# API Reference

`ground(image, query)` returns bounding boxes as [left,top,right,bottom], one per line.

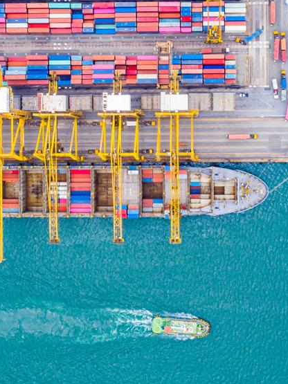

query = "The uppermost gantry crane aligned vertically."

[206,0,228,45]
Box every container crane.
[153,42,176,91]
[0,64,32,262]
[149,75,197,244]
[97,75,145,244]
[206,0,228,45]
[33,75,86,244]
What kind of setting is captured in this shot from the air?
port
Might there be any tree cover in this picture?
No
